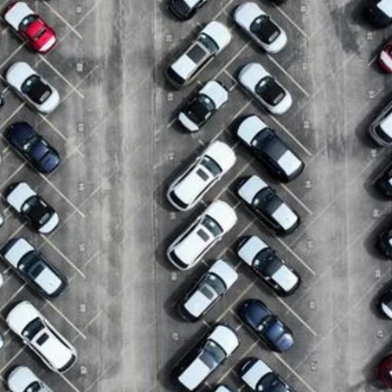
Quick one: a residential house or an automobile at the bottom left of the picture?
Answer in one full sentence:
The feature located at the bottom left of the picture is an automobile.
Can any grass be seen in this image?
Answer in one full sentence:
No, grass can't be seen anywhere here.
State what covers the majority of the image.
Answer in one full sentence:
What you mostly see from above here is paved ground.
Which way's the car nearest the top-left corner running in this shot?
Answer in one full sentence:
In this picture, the car nearest the top-left corner is oriented on a diagonal.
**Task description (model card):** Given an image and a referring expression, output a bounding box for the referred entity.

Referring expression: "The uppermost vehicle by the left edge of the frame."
[5,2,54,52]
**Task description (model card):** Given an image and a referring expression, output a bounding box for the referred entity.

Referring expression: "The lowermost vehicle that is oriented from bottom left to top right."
[171,323,237,392]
